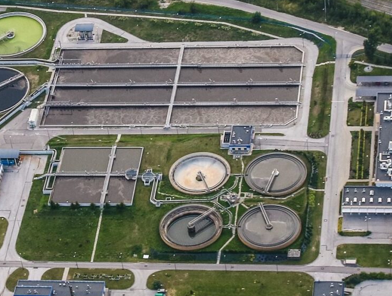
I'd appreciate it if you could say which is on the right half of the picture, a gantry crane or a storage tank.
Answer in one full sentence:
The one visible on the right half of the picture is a storage tank.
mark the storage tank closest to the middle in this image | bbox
[168,152,232,197]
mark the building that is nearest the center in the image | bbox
[229,125,254,153]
